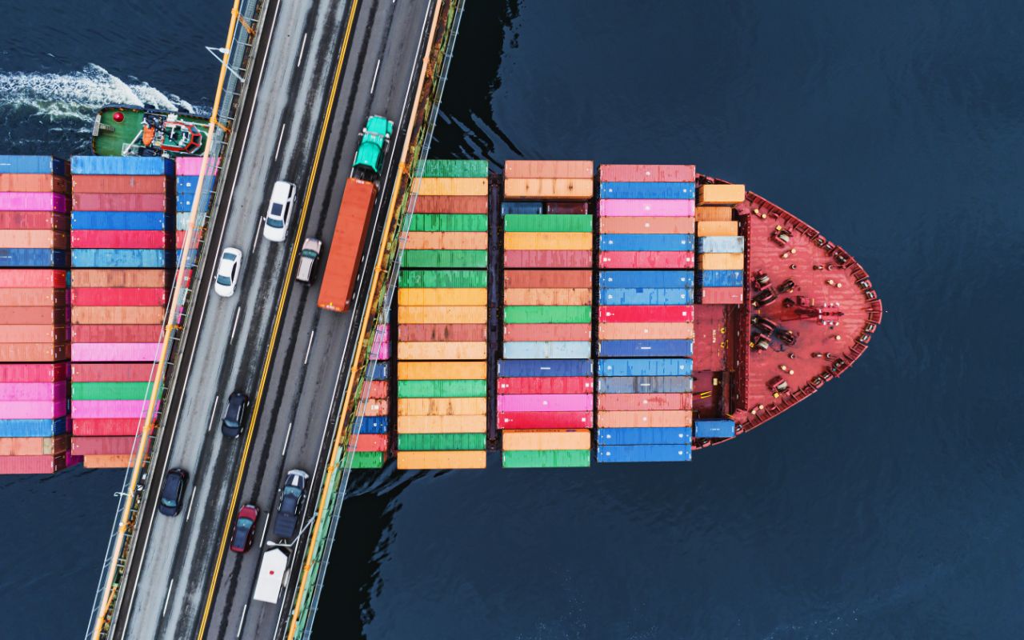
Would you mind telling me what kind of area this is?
port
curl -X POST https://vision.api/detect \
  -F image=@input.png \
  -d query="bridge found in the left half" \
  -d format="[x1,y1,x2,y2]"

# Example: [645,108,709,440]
[88,0,467,640]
